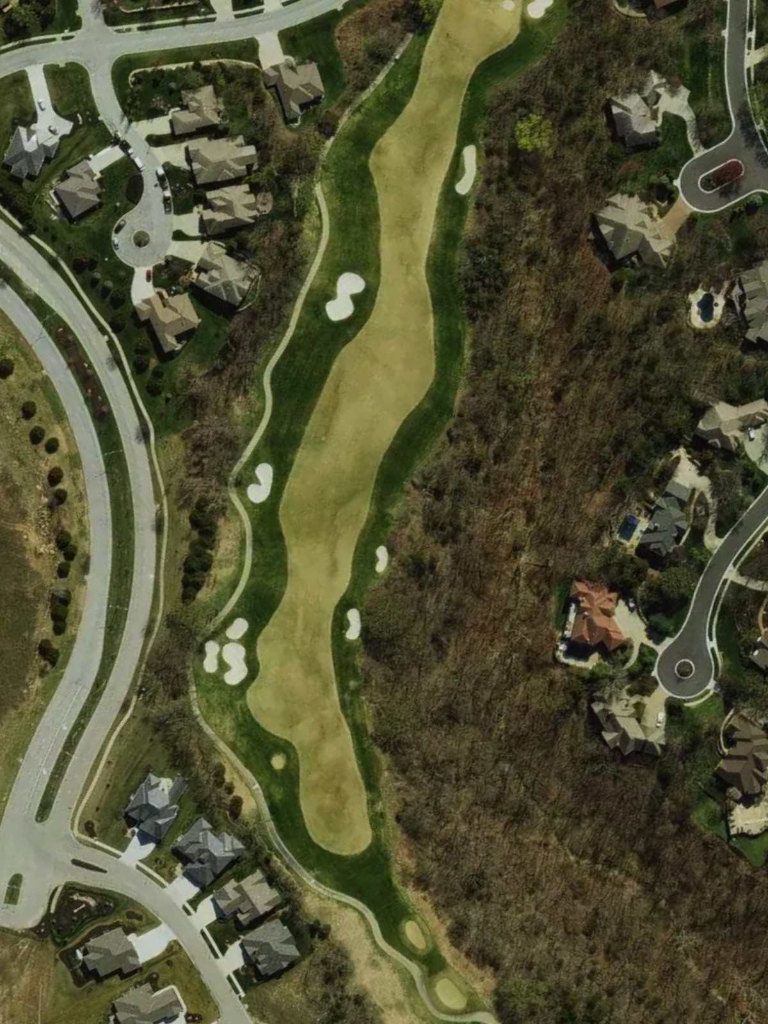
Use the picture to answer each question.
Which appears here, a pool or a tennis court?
pool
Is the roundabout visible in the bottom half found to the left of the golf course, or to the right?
right of it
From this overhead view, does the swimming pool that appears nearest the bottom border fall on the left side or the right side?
right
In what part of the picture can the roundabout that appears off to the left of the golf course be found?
top left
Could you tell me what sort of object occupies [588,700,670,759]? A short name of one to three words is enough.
house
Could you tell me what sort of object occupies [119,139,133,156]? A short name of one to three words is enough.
vehicle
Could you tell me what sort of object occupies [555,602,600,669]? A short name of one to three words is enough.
swimming pool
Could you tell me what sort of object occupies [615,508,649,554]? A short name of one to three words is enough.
swimming pool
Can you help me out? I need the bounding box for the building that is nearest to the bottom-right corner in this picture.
[723,709,768,793]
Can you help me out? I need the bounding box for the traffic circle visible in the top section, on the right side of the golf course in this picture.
[684,147,756,207]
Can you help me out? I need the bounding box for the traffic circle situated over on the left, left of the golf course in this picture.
[114,214,168,266]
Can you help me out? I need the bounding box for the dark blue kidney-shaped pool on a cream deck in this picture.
[689,280,730,328]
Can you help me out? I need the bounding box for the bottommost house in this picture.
[107,983,183,1024]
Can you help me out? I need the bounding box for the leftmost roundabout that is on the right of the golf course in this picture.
[659,644,712,696]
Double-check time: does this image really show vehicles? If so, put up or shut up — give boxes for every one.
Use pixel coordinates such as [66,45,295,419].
[656,713,663,727]
[119,139,133,156]
[155,166,167,191]
[115,220,125,233]
[112,238,120,250]
[146,269,151,282]
[37,99,46,111]
[165,191,172,214]
[626,597,634,609]
[48,125,59,136]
